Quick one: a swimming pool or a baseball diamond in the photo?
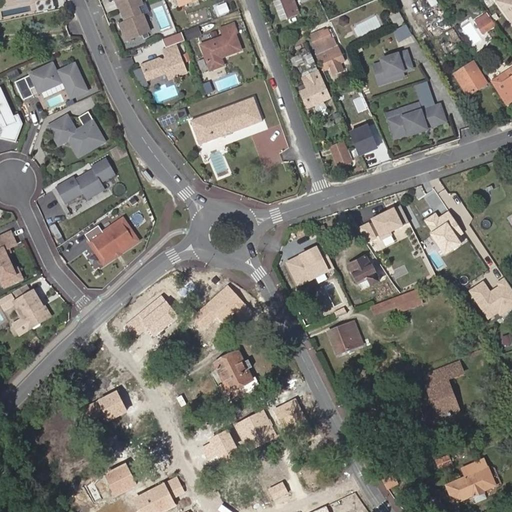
swimming pool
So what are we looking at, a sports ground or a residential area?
residential area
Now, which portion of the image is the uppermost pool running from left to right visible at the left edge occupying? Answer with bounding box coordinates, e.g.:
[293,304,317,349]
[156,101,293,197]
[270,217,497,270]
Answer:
[2,5,32,18]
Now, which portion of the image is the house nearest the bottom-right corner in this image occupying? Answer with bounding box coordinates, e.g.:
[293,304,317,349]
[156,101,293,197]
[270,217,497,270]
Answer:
[446,458,496,505]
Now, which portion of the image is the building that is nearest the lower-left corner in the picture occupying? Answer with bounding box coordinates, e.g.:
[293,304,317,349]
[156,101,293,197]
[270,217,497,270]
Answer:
[105,463,139,496]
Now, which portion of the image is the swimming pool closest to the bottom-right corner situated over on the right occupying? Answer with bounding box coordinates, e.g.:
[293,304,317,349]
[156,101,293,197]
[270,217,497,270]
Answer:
[430,248,446,270]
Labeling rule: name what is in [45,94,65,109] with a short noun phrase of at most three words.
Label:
swimming pool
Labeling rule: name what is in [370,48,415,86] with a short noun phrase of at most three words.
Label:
house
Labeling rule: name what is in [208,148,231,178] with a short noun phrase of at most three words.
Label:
swimming pool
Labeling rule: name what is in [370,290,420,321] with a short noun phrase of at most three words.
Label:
shed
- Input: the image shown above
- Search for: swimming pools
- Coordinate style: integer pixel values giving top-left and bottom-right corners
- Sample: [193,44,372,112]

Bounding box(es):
[131,212,145,226]
[208,148,231,178]
[214,74,240,94]
[323,283,338,299]
[430,248,446,270]
[2,5,32,18]
[152,4,172,30]
[45,94,65,109]
[152,84,180,104]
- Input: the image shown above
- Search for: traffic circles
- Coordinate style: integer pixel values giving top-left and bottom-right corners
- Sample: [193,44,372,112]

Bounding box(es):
[166,186,275,277]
